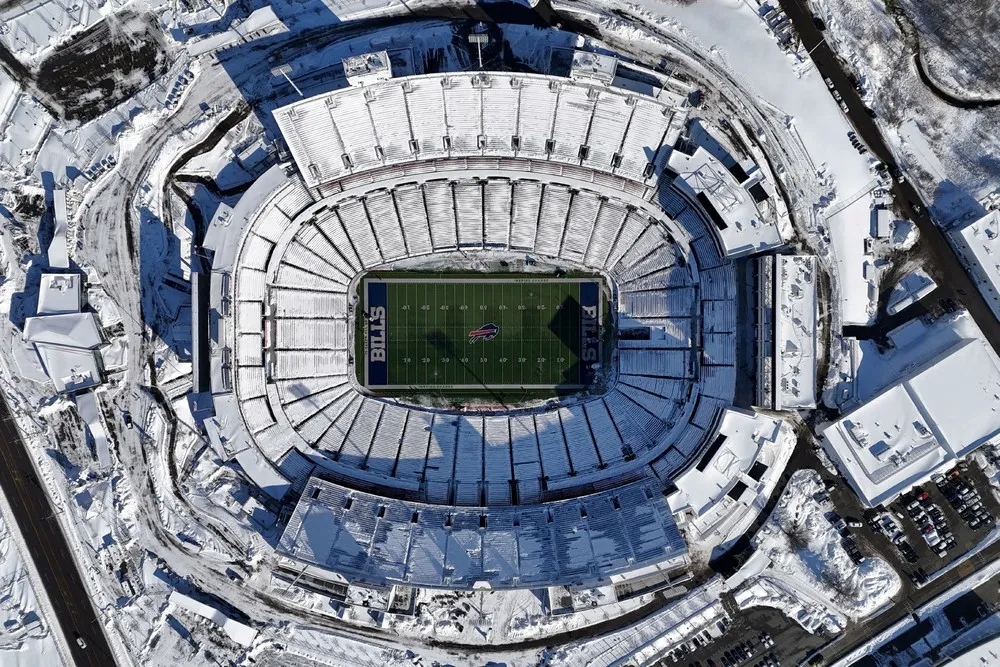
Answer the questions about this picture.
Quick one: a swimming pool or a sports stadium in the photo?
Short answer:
sports stadium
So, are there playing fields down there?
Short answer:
Yes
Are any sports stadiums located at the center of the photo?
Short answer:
Yes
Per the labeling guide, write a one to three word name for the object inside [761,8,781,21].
vehicle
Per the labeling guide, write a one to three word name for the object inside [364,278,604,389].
sports field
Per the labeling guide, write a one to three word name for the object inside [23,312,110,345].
building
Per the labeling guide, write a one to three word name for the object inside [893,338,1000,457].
building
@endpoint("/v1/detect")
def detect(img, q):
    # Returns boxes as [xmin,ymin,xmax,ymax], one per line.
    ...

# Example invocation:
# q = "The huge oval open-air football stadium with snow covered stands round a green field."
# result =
[203,72,740,590]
